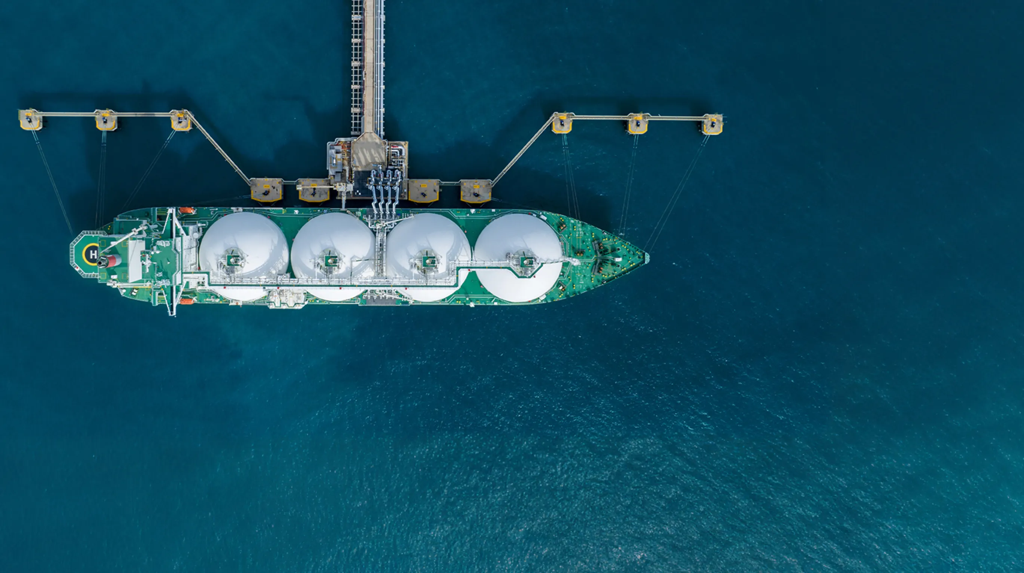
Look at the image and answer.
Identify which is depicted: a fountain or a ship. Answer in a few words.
ship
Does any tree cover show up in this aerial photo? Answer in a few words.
No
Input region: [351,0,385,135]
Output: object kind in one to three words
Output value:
pier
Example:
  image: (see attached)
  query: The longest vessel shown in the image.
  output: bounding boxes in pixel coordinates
[69,206,650,317]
